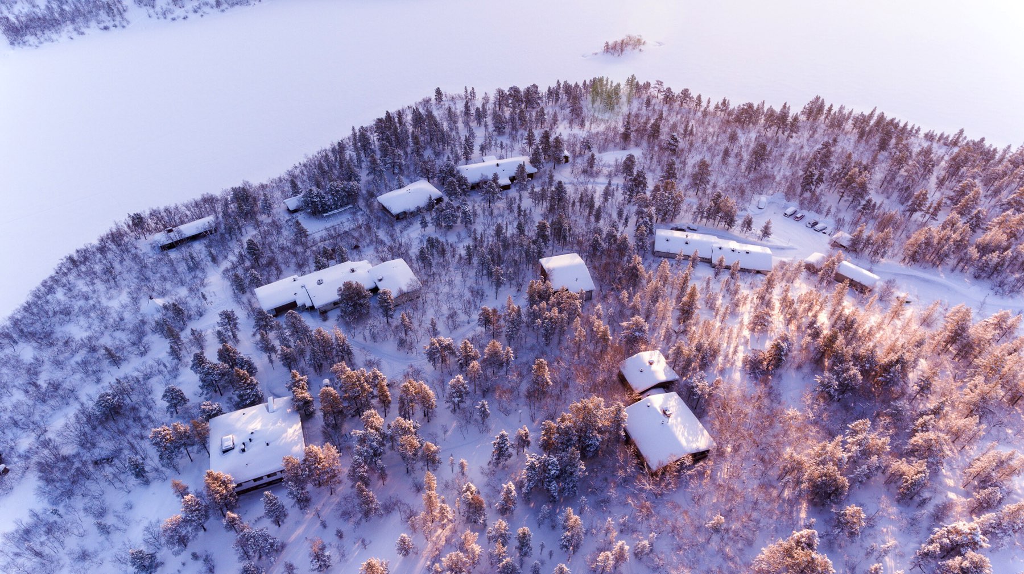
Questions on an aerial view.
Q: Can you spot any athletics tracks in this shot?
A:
No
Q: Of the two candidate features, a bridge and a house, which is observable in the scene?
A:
house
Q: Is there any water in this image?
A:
Yes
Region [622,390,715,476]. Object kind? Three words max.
house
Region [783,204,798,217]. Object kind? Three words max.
vehicle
